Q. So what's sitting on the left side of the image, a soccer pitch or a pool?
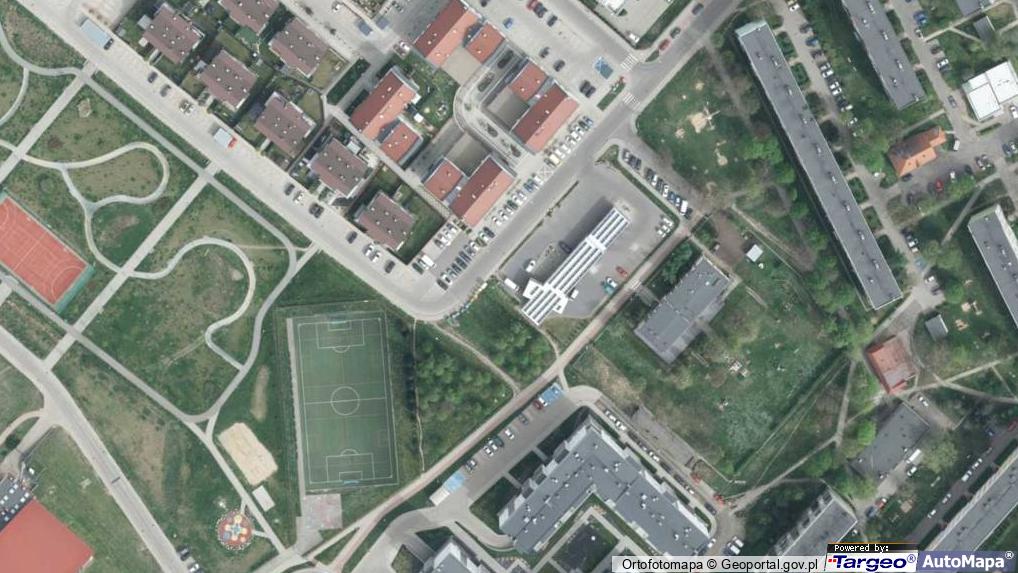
soccer pitch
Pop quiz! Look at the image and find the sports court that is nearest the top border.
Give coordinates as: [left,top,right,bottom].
[0,190,94,312]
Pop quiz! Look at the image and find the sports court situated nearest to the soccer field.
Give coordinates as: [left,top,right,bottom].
[218,422,278,485]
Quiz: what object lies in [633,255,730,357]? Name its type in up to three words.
building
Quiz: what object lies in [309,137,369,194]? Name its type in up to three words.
house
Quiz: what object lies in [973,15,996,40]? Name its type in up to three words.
building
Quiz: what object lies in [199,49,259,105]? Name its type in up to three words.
house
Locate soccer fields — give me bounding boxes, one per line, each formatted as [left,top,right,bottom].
[293,314,400,490]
